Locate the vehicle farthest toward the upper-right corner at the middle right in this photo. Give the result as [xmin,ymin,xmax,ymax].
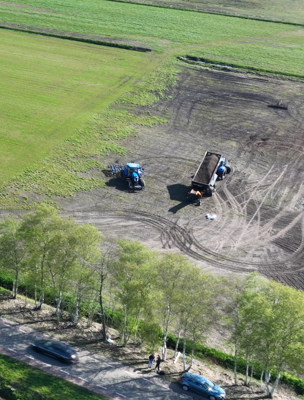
[213,153,232,182]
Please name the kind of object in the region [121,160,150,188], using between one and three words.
work vehicle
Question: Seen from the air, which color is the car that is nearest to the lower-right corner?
blue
